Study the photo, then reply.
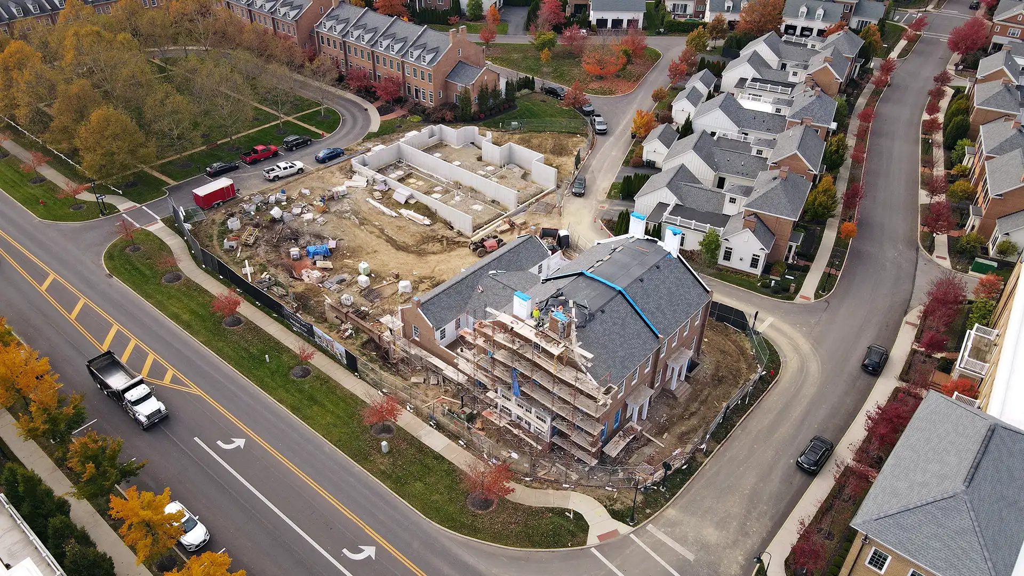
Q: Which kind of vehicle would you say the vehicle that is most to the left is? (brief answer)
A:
truck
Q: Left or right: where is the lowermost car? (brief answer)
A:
left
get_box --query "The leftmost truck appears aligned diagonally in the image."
[82,349,167,429]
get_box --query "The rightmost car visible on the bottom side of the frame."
[862,341,895,376]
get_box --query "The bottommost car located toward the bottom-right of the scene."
[795,430,838,475]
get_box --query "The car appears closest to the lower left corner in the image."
[157,491,208,546]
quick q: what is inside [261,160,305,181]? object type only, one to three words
truck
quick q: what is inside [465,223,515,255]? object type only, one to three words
work vehicle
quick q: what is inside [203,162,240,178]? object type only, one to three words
car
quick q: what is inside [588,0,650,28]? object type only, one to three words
house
